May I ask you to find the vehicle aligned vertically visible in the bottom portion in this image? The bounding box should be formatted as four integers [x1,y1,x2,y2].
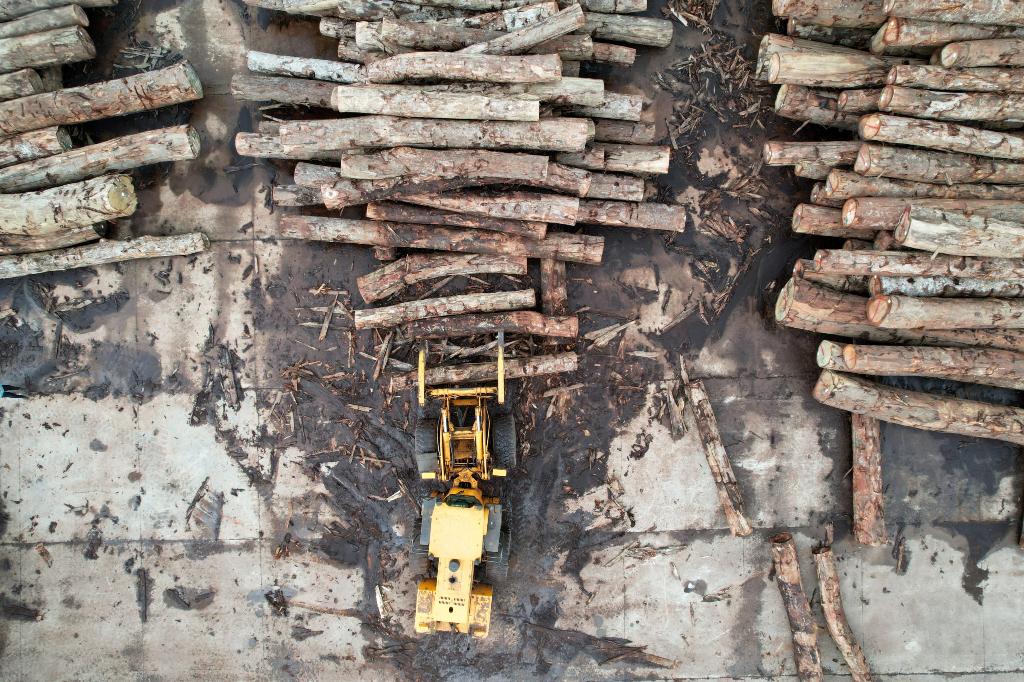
[406,331,517,654]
